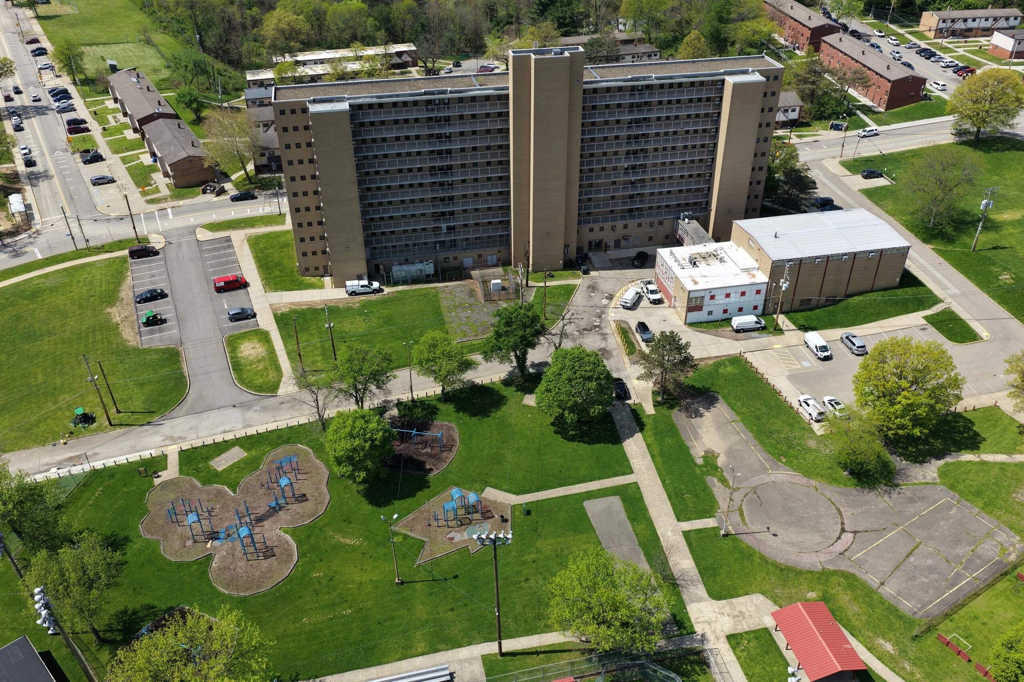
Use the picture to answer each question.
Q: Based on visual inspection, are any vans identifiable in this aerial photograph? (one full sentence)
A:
Yes, the picture does show a van.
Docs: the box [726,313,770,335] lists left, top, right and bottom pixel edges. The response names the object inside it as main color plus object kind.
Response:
white vehicle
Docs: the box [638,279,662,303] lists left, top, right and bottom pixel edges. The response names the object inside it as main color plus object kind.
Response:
white truck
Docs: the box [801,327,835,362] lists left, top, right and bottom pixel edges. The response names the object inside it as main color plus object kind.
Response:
white van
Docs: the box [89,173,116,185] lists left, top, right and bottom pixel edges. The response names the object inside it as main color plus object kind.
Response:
gray vehicle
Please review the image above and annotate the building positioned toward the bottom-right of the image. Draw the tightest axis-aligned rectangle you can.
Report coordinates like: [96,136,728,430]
[771,598,875,682]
